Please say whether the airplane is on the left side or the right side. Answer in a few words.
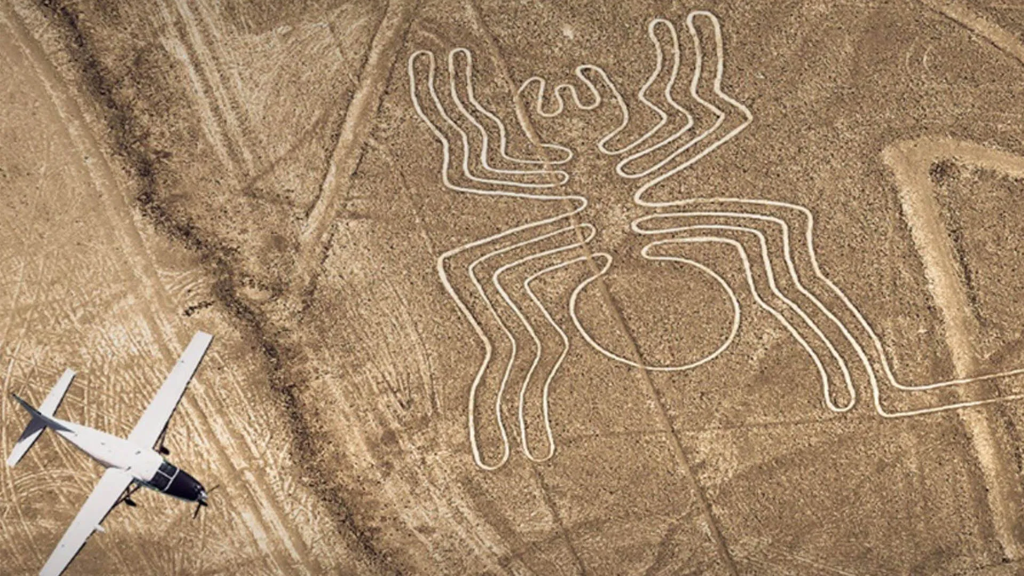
left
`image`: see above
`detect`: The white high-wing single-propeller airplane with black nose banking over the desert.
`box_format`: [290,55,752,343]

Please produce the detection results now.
[4,329,216,576]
